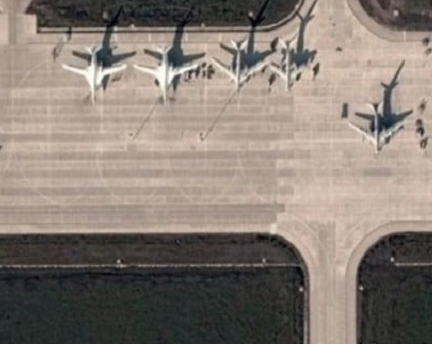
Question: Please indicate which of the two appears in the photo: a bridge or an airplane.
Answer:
airplane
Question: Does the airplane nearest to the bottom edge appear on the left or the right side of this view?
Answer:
right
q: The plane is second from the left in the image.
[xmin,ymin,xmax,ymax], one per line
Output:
[133,47,195,105]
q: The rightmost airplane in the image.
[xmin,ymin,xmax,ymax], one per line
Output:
[349,103,405,158]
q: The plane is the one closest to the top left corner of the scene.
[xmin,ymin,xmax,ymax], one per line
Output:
[63,48,126,105]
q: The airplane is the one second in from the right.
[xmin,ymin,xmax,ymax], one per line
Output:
[271,39,305,91]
